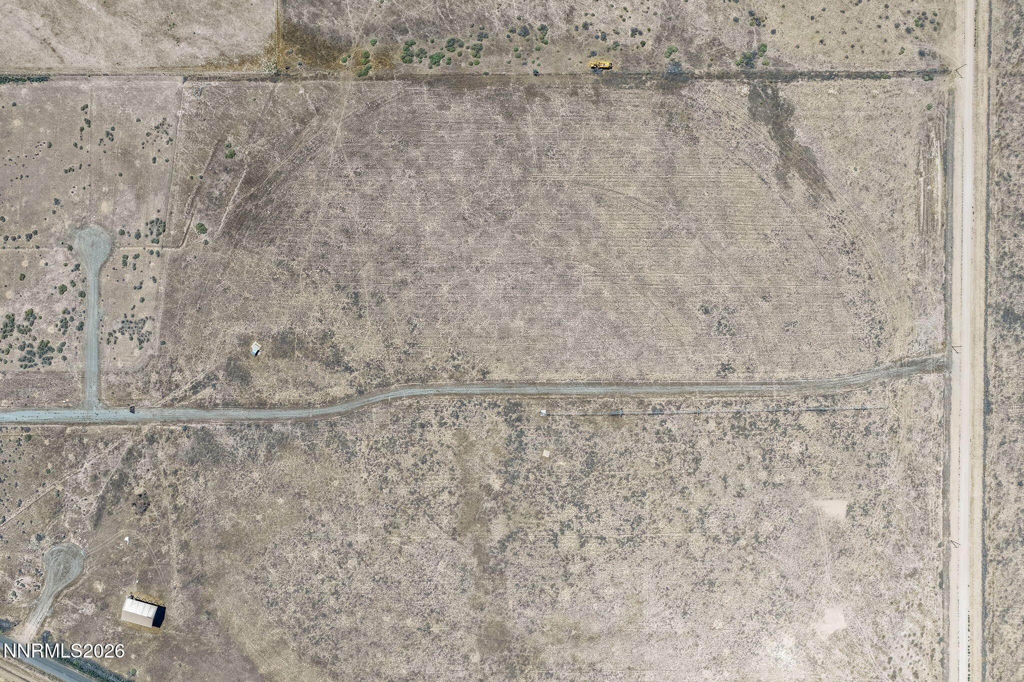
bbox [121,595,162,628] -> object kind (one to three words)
barn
